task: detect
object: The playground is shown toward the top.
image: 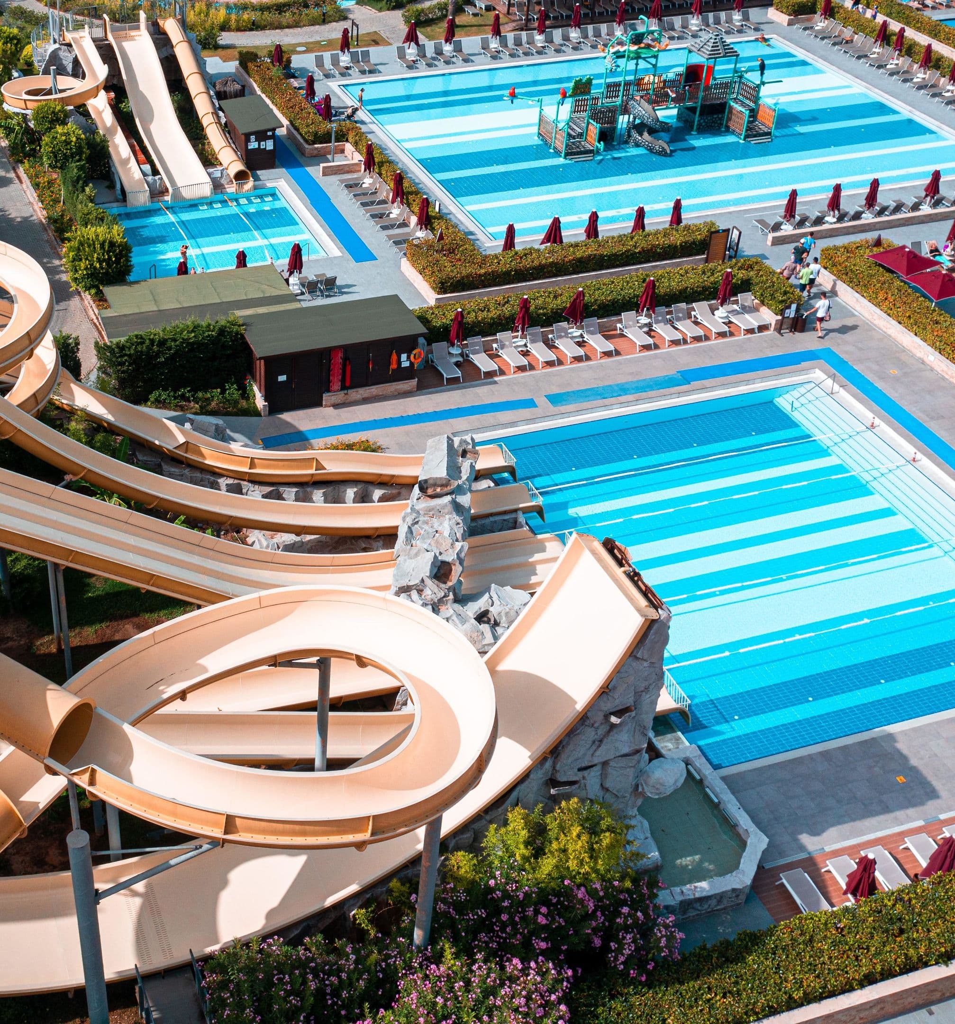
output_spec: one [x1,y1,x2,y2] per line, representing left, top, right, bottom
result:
[492,0,783,163]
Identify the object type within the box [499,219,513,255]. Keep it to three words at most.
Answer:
umbrella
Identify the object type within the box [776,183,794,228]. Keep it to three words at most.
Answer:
umbrella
